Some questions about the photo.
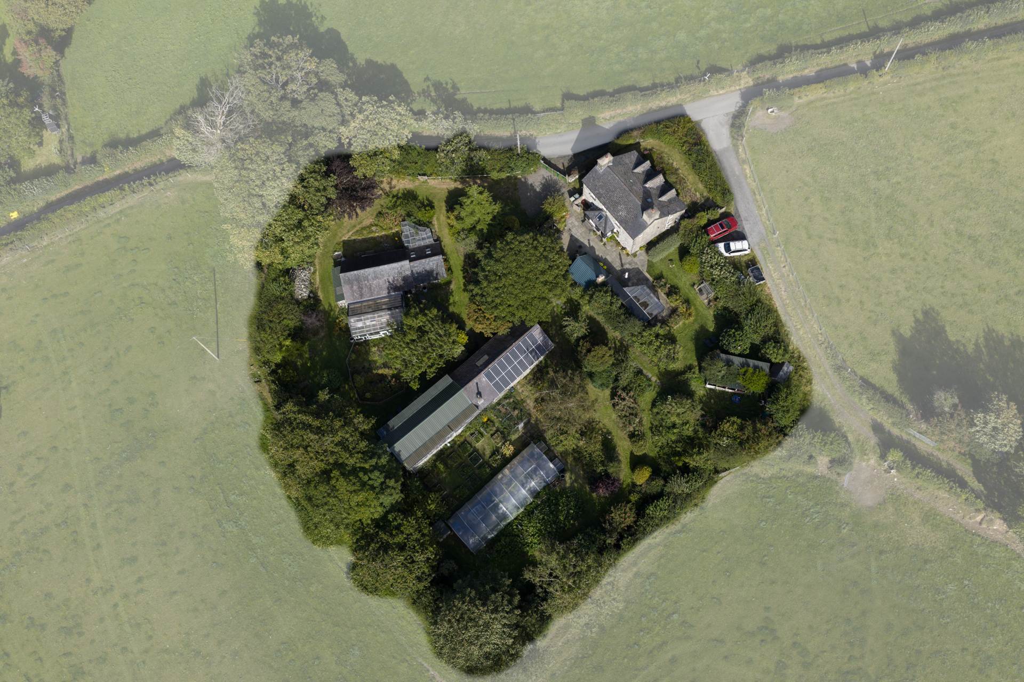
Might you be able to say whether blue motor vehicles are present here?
No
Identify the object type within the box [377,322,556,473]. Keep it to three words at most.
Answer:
barn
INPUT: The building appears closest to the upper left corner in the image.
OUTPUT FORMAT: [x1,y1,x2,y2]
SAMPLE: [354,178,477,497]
[331,222,448,344]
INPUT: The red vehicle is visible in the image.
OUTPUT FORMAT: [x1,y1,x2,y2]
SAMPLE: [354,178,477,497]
[704,216,738,238]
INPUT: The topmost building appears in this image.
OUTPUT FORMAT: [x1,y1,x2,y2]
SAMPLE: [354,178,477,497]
[581,150,687,254]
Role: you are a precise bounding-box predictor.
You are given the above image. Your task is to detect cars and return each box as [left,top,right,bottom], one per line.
[716,239,751,257]
[704,216,738,238]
